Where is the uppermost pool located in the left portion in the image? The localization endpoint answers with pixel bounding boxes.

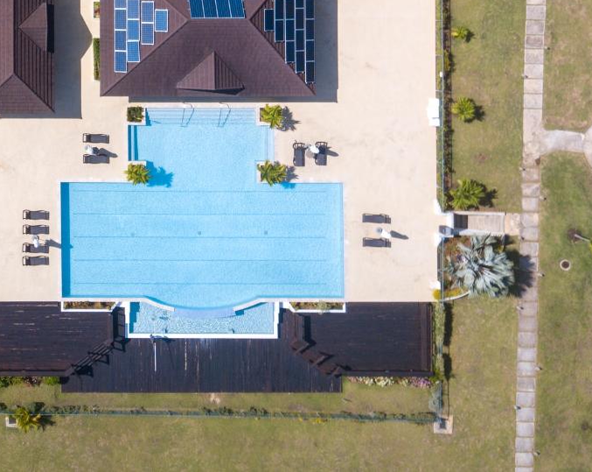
[58,106,345,316]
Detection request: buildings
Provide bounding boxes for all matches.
[0,0,55,114]
[100,0,316,96]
